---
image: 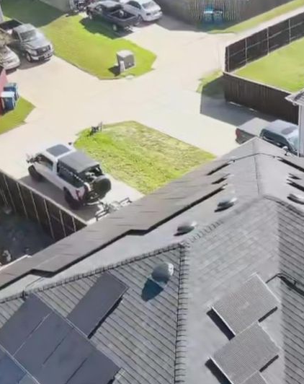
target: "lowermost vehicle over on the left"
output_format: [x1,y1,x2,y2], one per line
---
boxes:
[23,142,120,211]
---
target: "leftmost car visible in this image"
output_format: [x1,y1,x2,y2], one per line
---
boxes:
[0,34,24,68]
